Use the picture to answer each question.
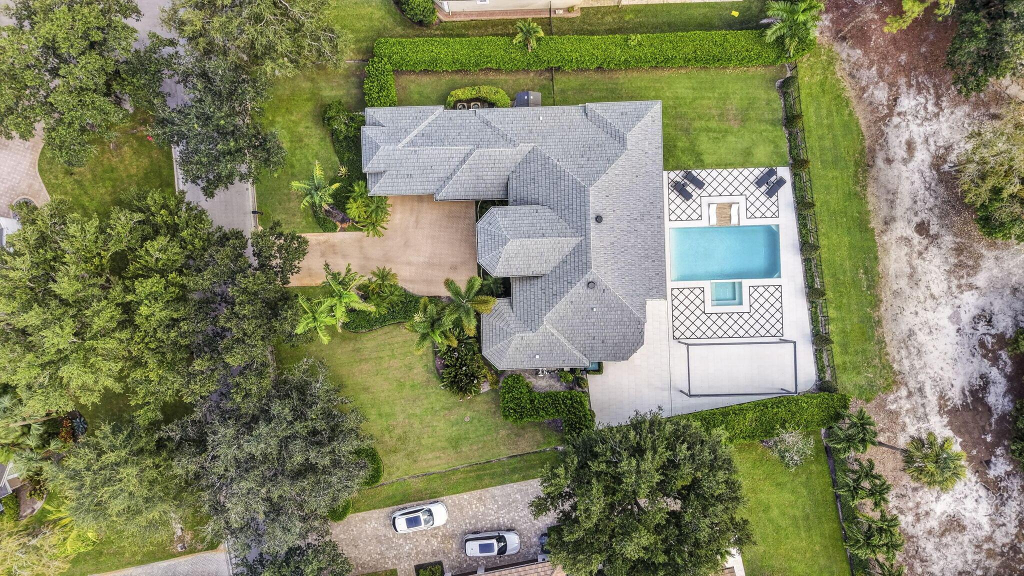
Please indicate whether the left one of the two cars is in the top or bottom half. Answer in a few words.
bottom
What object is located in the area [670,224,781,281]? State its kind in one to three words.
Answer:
swimming pool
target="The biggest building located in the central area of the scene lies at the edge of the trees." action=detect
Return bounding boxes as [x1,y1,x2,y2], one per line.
[361,100,668,371]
